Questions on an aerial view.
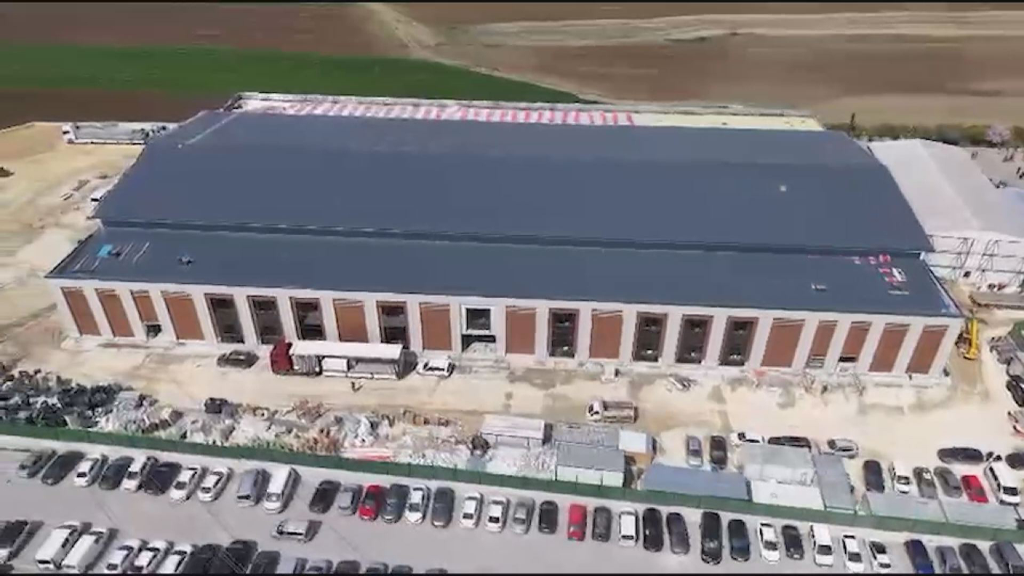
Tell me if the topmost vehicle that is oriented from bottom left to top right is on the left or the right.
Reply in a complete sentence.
The topmost vehicle that is oriented from bottom left to top right appears in the left half of the scene.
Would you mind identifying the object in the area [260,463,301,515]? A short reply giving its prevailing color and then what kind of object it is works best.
white vehicle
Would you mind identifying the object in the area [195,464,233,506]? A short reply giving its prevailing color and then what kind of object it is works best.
white car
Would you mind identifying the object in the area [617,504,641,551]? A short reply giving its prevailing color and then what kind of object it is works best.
white car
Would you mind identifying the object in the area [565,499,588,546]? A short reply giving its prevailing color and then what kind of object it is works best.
red car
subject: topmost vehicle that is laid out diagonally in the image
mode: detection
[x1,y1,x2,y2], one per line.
[84,187,114,208]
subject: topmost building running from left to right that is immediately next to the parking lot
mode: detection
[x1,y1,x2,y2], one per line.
[42,94,972,394]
